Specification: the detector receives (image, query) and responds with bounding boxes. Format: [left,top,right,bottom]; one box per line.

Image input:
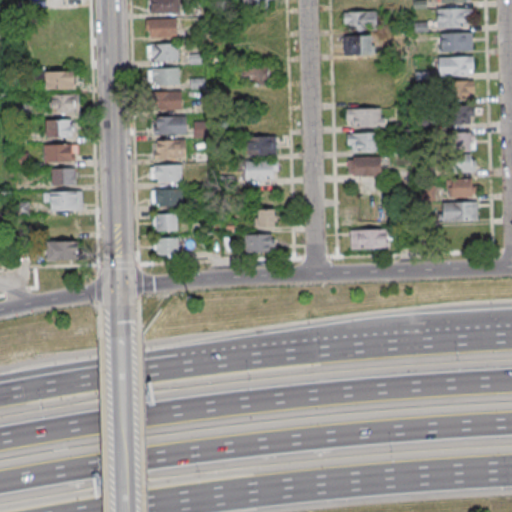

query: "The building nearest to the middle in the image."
[245,235,275,253]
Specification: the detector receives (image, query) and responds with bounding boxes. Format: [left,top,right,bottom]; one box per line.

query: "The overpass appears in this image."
[97,304,148,512]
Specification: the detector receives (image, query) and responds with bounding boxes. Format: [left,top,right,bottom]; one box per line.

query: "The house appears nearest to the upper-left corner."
[44,72,76,89]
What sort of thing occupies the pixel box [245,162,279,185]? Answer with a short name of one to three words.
house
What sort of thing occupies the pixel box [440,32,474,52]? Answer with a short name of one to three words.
house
